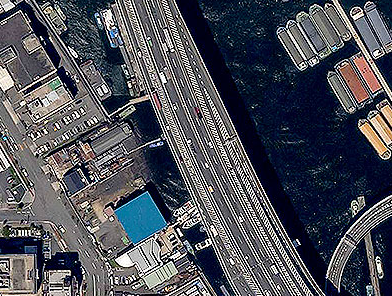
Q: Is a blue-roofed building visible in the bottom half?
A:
Yes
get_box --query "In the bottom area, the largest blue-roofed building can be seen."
[115,191,169,244]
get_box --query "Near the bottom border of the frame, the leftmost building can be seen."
[0,255,38,293]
